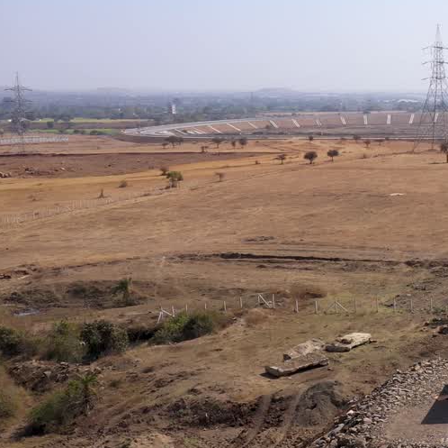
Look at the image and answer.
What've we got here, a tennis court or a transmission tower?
transmission tower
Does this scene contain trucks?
No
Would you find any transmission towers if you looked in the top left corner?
Yes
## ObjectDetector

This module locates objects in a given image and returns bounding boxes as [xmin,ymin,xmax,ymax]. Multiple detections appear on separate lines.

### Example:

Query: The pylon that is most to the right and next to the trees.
[418,24,448,149]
